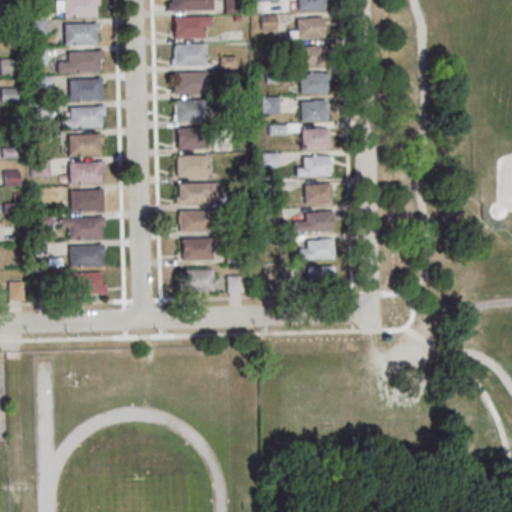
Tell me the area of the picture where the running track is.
bottom left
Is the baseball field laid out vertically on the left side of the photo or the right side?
right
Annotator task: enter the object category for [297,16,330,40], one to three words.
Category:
house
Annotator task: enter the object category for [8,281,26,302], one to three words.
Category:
building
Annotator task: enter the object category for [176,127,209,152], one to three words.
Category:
house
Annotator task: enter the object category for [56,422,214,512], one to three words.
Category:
sports field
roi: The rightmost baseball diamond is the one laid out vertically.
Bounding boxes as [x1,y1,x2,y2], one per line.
[489,152,512,220]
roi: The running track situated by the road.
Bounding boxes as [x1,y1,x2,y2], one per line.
[38,361,228,512]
